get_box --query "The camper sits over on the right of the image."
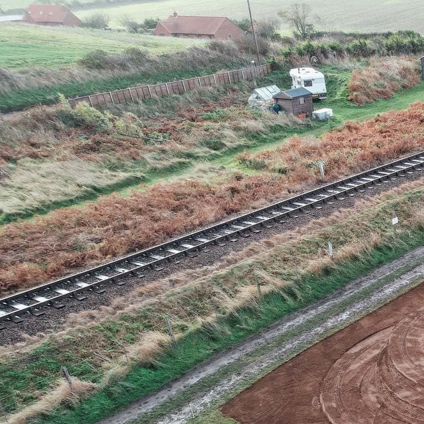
[288,64,326,99]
